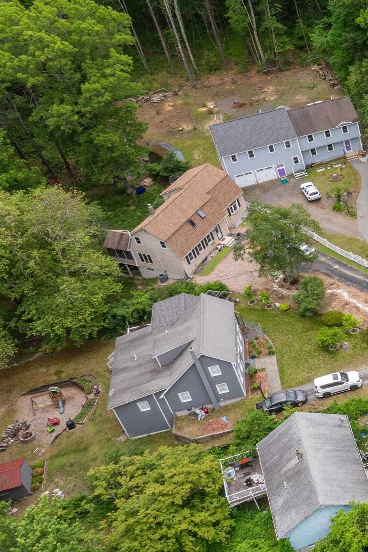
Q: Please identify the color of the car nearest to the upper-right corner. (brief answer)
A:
white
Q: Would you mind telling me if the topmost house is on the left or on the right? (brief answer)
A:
right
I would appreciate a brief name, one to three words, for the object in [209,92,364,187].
house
